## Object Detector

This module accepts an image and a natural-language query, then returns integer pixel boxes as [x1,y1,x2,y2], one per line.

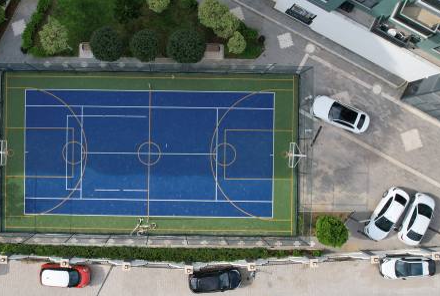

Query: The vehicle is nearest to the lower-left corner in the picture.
[40,262,91,289]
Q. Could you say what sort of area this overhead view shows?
sports ground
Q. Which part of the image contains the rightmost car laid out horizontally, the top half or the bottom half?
bottom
